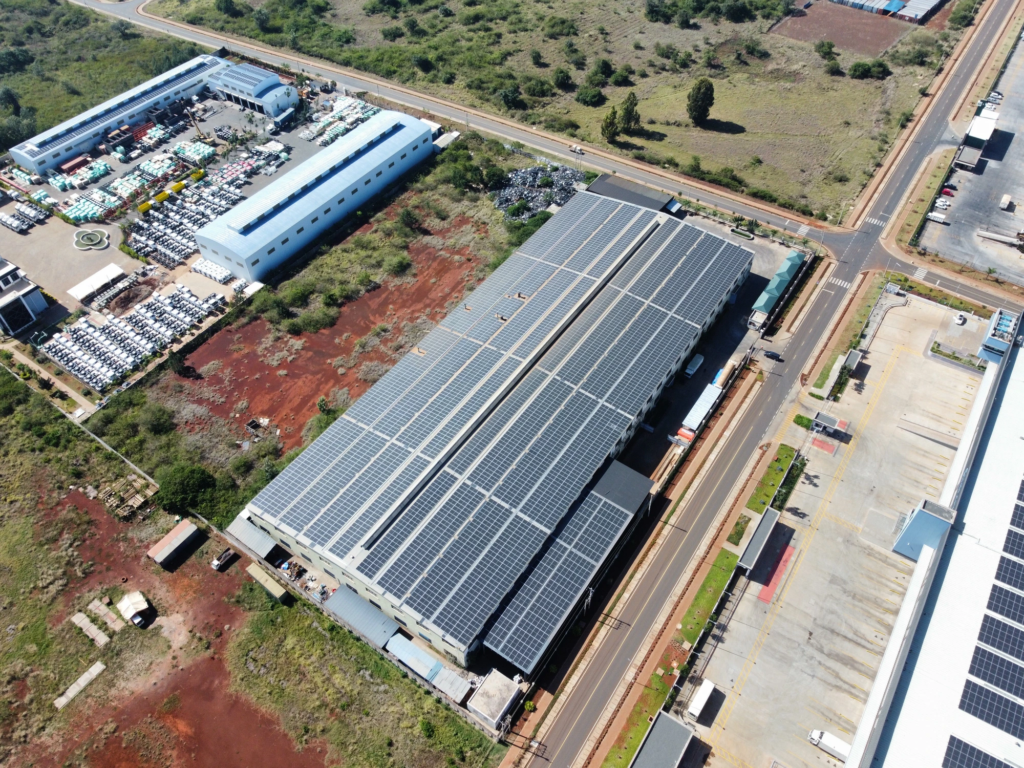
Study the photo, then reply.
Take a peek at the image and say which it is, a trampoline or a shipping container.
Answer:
shipping container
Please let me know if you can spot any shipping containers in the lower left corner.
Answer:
Yes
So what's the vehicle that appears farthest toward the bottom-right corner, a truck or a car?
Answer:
truck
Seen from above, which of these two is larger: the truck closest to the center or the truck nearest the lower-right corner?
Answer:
the truck nearest the lower-right corner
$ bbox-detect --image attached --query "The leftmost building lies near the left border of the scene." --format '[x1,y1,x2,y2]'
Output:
[0,254,50,344]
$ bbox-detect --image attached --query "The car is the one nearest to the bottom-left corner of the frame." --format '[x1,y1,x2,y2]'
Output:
[125,609,147,631]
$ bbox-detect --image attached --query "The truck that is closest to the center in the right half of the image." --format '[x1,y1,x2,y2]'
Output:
[682,349,709,378]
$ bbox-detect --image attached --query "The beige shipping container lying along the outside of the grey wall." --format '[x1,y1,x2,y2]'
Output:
[246,563,288,604]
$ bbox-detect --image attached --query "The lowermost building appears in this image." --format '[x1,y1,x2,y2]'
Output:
[633,711,693,768]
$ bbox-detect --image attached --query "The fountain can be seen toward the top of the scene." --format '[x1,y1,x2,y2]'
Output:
[72,226,108,249]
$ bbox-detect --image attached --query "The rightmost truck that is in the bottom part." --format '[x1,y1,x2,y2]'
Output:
[778,714,850,767]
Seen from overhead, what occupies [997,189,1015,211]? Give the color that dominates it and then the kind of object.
white vehicle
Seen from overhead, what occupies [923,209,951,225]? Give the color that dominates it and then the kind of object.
white vehicle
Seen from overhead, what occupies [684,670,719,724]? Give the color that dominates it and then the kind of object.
white truck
